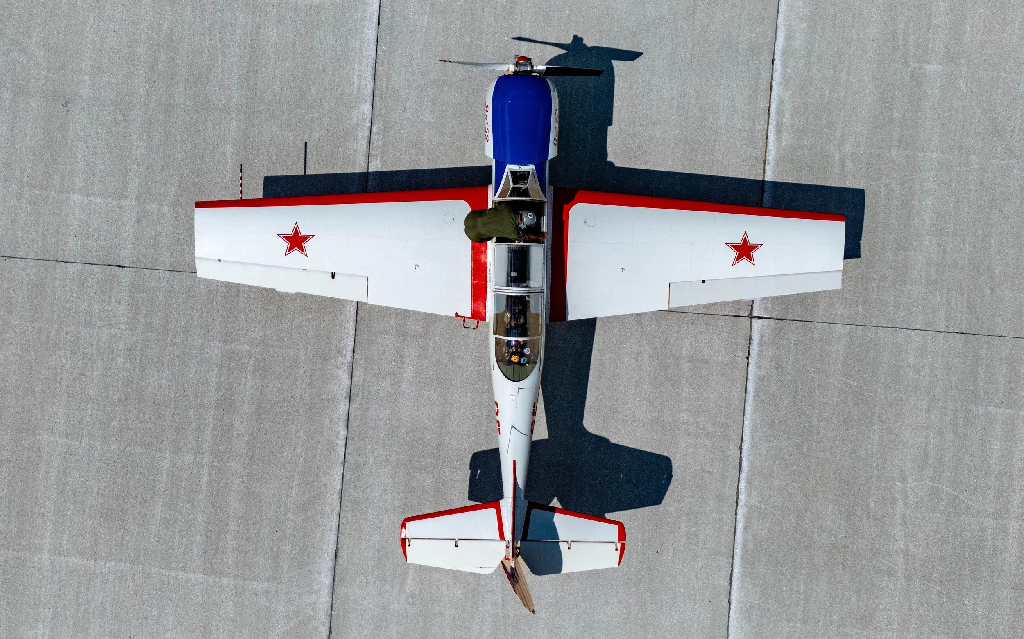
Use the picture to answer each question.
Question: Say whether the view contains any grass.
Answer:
No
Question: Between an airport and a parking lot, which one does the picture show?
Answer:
airport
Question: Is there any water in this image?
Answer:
No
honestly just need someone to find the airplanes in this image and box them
[194,50,844,617]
